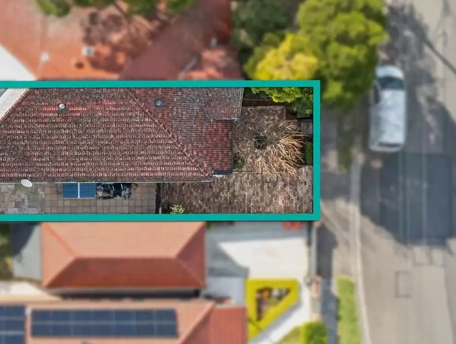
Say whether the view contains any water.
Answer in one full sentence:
No, the picture contains no water.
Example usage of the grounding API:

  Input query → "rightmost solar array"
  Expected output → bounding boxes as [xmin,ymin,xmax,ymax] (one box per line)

[31,311,177,338]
